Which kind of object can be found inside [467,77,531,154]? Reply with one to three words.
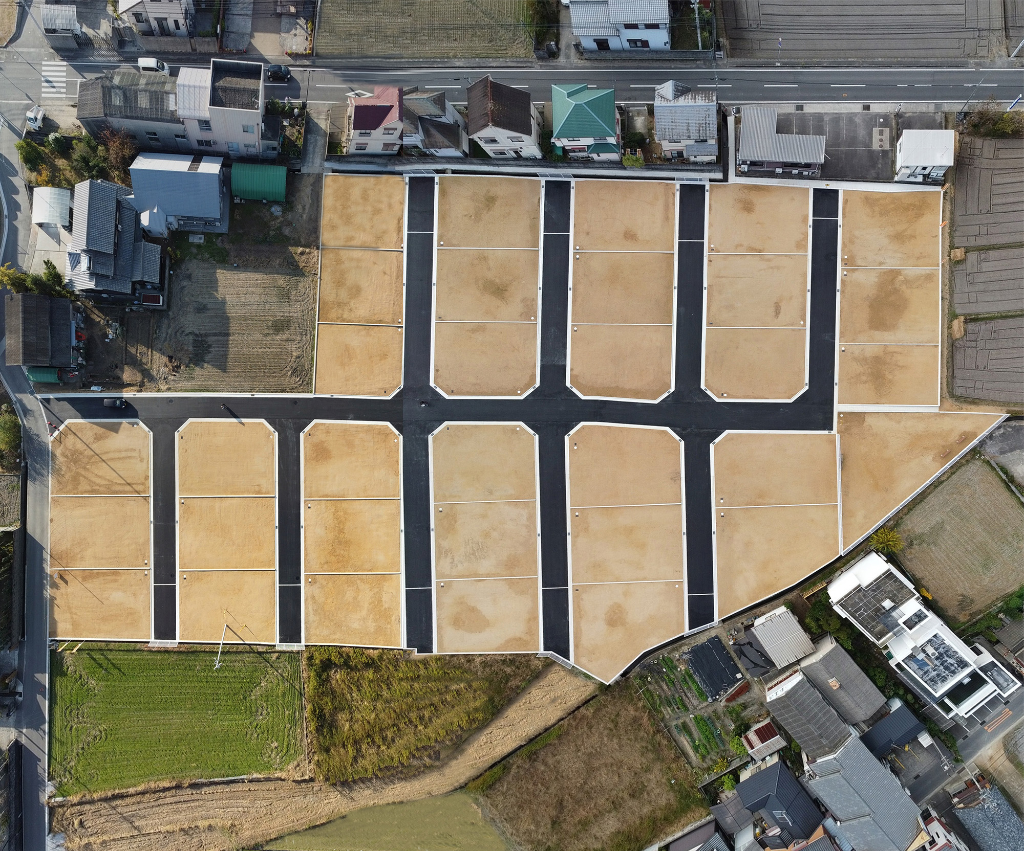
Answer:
house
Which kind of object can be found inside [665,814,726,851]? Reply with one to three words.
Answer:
house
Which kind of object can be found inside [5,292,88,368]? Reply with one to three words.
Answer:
barn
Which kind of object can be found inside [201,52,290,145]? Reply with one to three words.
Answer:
building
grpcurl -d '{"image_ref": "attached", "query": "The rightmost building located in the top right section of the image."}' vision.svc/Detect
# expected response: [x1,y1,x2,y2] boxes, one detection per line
[883,128,961,178]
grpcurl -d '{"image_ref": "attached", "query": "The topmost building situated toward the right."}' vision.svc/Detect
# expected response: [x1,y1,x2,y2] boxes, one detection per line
[570,0,671,49]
